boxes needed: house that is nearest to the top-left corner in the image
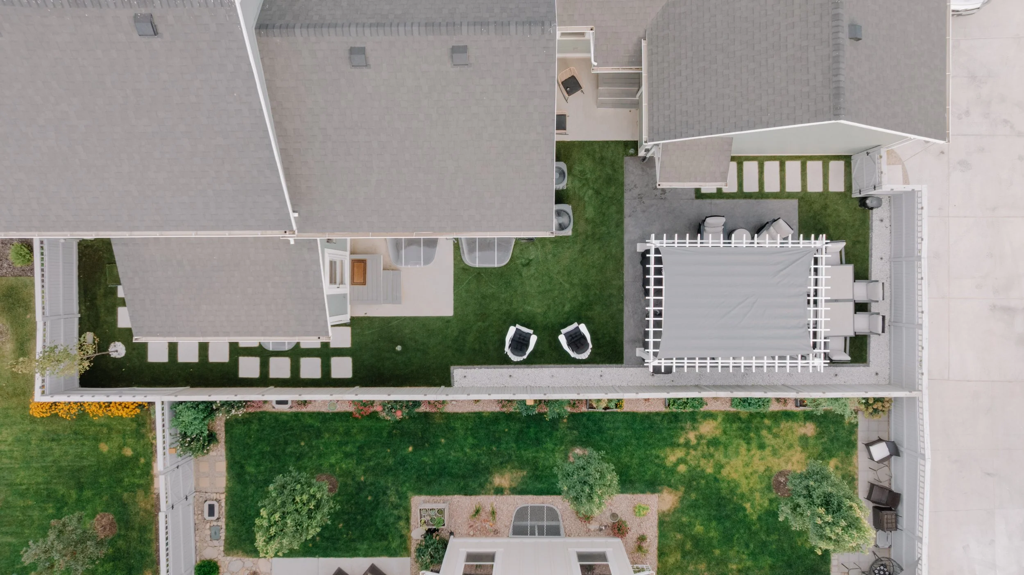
[0,0,678,341]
